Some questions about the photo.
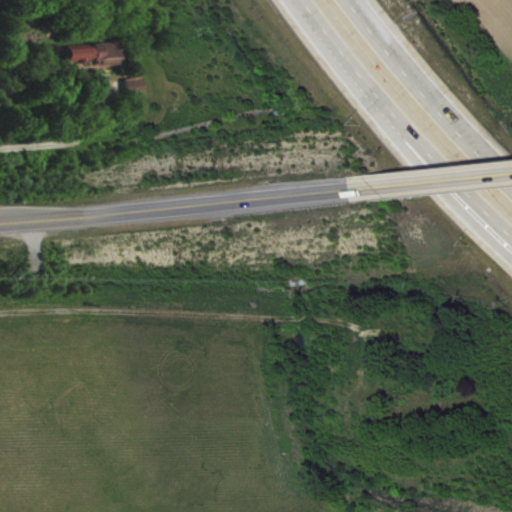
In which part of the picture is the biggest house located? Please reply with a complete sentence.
Look in the top left portion of the view to spot the biggest house.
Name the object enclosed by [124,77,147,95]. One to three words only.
building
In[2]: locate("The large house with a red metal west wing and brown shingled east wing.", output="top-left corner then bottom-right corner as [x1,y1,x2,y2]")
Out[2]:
[70,42,123,72]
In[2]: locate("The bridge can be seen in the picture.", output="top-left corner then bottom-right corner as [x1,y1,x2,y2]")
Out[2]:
[348,161,512,202]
